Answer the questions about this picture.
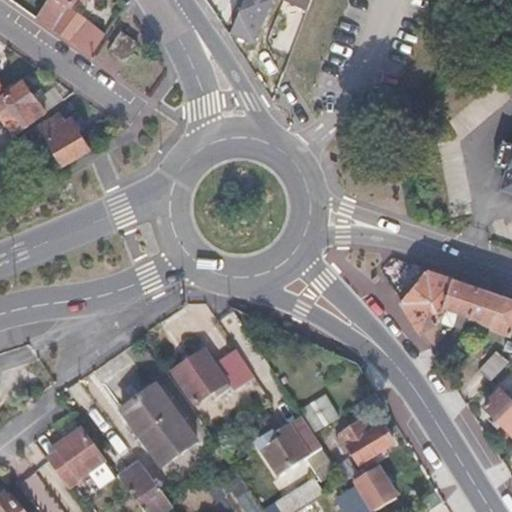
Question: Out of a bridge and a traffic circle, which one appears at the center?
traffic circle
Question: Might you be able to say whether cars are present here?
Yes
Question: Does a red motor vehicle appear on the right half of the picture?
Yes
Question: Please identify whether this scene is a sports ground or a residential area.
residential area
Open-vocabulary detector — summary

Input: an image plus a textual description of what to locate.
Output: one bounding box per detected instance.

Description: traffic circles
[148,114,334,299]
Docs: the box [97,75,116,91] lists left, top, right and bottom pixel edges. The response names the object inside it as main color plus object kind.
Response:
white car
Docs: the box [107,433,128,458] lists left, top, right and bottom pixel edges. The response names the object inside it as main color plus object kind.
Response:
white truck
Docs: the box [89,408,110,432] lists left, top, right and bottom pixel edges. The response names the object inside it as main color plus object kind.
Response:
white vehicle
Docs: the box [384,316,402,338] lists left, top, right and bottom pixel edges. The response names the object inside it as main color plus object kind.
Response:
white car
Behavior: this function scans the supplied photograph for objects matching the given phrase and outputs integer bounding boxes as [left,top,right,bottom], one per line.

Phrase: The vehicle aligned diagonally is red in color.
[365,296,386,316]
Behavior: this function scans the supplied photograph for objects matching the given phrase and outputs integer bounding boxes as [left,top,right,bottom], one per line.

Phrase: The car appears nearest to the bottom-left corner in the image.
[38,435,54,454]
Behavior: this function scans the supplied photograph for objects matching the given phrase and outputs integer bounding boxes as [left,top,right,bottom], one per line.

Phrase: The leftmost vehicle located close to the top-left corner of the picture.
[53,40,70,54]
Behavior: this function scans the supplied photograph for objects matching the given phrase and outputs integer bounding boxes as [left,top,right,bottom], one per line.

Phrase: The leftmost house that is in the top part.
[0,79,47,131]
